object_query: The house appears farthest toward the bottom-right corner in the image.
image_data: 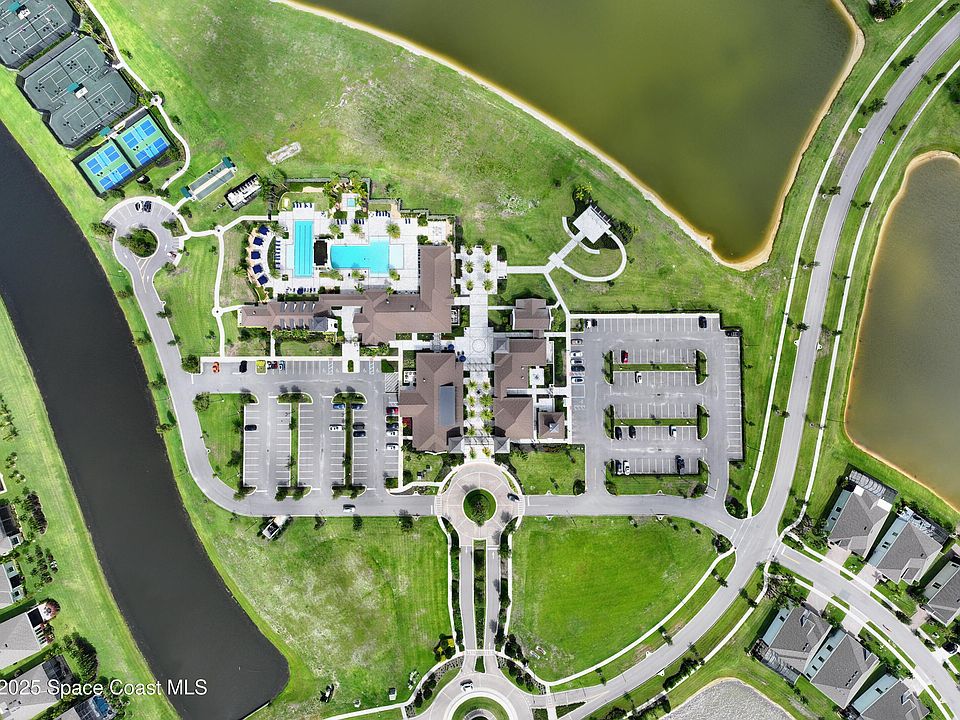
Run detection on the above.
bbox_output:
[847,673,929,720]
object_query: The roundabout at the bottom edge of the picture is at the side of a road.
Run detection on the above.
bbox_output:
[429,652,608,720]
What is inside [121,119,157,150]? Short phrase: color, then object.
blue sports court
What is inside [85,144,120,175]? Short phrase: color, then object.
blue sports court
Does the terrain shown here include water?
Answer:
Yes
